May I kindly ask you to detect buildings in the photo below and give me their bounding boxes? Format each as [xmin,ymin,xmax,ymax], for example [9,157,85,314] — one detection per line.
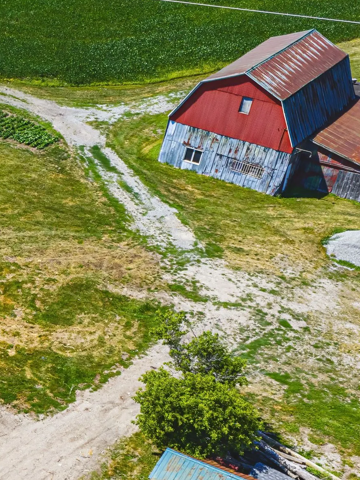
[150,448,250,480]
[158,26,358,198]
